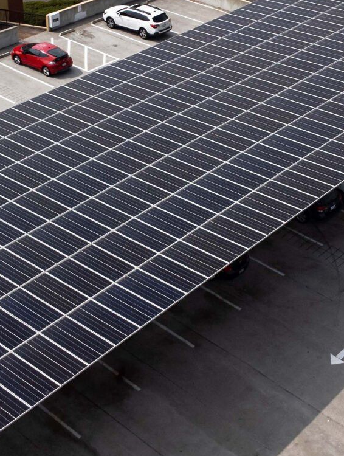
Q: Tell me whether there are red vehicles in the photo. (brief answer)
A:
Yes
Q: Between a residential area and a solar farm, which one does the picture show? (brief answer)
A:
solar farm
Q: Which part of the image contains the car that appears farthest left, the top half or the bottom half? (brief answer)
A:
top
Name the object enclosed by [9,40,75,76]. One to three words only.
car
